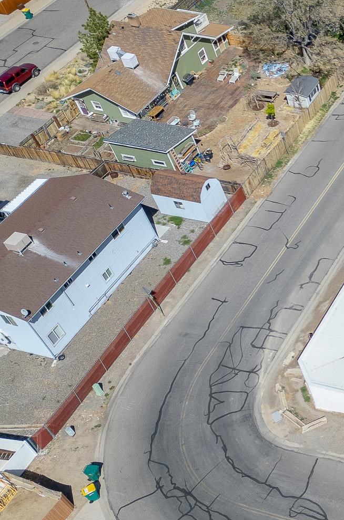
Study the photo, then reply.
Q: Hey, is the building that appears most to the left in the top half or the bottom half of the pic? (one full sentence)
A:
The building that appears most to the left is in the bottom half of the image.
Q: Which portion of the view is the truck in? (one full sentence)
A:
The truck is located in the top left region of the scene.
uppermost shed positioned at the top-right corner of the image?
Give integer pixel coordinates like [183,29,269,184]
[281,75,324,108]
